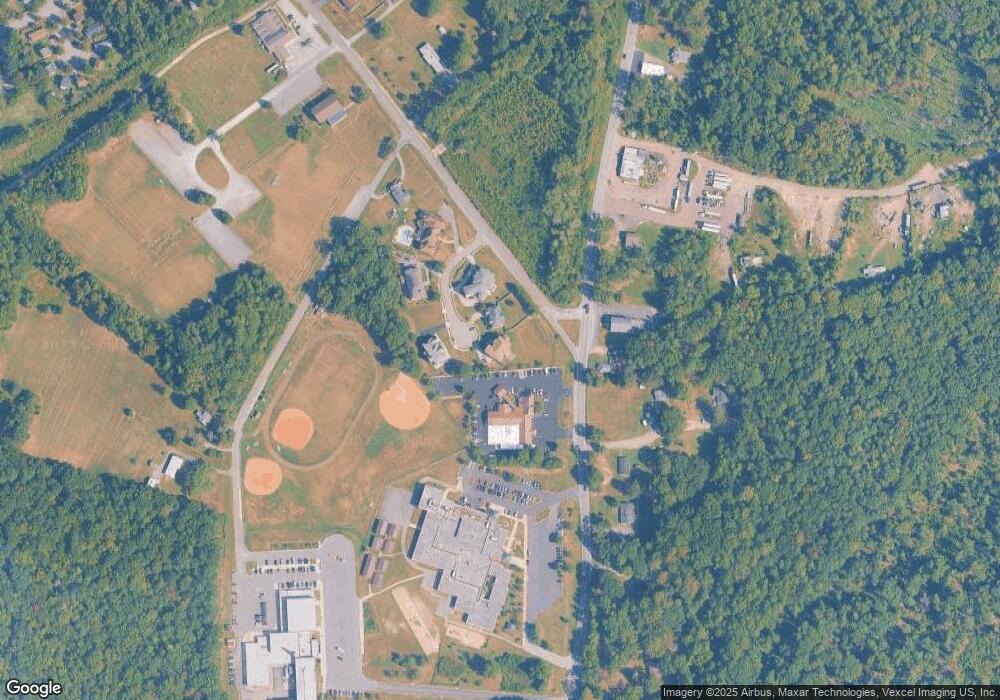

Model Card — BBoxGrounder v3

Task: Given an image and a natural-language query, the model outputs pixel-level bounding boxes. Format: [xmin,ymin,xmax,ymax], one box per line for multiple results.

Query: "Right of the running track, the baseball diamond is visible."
[380,374,430,430]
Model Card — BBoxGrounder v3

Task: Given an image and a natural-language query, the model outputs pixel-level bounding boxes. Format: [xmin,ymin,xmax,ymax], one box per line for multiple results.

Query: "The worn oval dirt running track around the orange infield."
[267,329,380,470]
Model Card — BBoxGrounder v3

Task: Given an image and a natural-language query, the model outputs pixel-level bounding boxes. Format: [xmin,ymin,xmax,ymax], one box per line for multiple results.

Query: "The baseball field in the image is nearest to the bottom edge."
[243,456,282,495]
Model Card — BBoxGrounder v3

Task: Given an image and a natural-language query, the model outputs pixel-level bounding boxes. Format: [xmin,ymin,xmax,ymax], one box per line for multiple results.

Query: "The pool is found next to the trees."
[396,226,412,243]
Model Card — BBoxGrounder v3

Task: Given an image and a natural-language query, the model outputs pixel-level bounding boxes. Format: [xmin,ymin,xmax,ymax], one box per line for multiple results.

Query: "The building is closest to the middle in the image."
[486,335,513,362]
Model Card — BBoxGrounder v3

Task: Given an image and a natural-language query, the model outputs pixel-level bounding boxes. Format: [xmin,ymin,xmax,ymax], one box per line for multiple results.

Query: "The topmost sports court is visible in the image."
[381,486,411,527]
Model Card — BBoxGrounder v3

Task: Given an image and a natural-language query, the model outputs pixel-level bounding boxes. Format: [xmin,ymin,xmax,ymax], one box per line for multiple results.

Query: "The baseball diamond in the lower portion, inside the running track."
[271,409,313,449]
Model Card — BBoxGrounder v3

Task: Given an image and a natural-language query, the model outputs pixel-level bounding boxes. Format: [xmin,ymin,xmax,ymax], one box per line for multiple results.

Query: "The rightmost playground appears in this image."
[446,625,488,649]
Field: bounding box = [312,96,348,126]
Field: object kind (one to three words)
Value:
house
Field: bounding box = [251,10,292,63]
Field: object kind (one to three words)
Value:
building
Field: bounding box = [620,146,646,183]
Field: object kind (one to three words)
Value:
building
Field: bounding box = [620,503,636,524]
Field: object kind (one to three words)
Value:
house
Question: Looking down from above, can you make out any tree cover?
Yes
